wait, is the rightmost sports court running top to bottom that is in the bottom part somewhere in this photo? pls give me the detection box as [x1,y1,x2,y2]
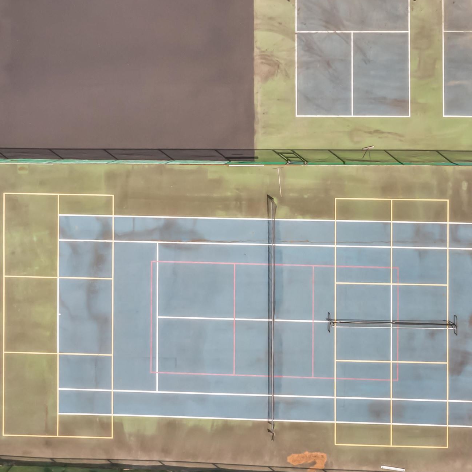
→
[334,198,449,448]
